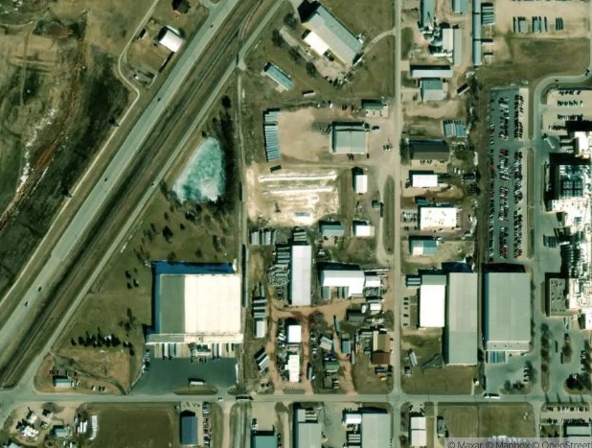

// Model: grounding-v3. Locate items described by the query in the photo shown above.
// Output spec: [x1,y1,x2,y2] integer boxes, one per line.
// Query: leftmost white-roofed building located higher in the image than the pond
[157,28,183,52]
